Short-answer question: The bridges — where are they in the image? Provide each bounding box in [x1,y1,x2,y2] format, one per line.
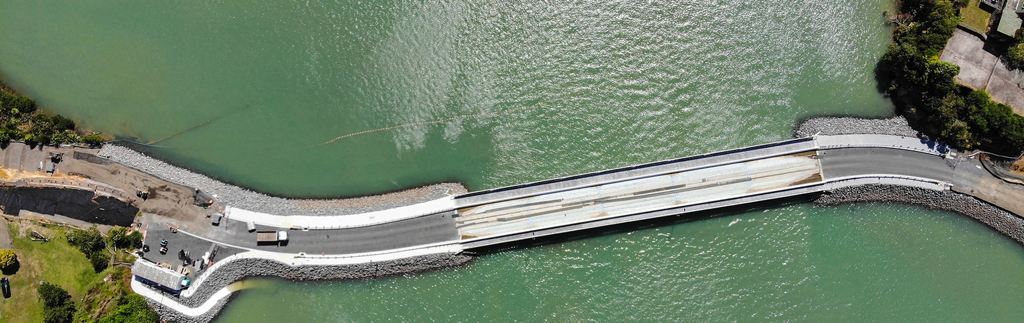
[445,129,834,256]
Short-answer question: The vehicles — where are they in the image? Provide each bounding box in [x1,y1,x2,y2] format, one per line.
[157,247,166,254]
[256,231,291,243]
[47,153,67,161]
[0,278,12,297]
[159,239,168,245]
[133,189,151,201]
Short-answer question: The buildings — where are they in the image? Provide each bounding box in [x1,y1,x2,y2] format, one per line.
[135,259,190,290]
[983,0,1021,41]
